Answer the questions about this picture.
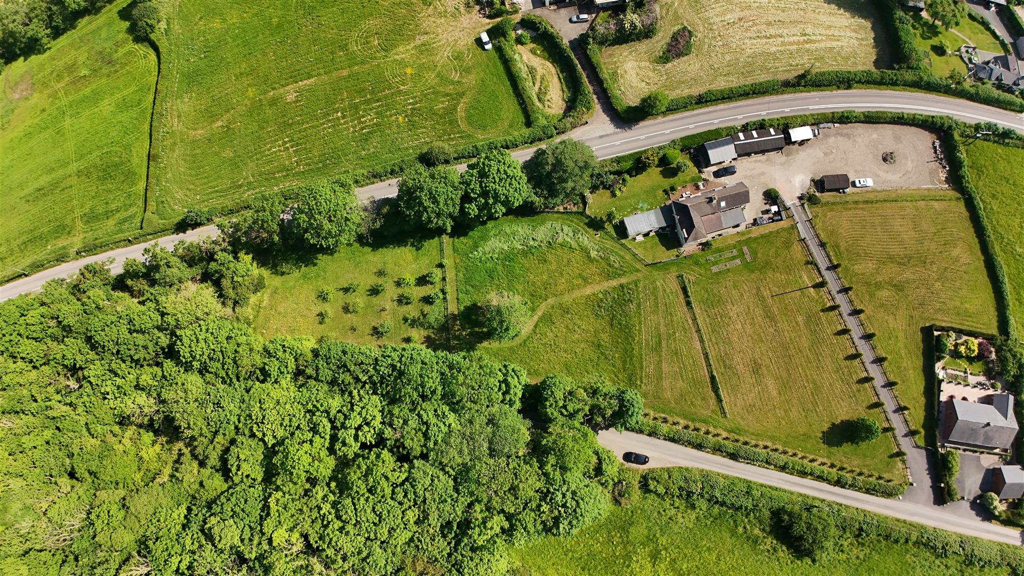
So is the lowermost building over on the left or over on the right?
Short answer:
right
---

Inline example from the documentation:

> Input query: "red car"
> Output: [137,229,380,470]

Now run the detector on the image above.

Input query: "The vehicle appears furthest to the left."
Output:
[478,29,493,51]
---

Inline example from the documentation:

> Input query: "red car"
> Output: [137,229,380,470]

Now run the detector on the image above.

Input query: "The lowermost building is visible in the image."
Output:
[993,465,1024,499]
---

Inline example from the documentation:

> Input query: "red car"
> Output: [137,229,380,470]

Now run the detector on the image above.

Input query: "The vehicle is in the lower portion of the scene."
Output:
[623,450,649,464]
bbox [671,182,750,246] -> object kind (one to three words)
house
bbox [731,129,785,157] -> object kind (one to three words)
shed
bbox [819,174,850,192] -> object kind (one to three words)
shed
